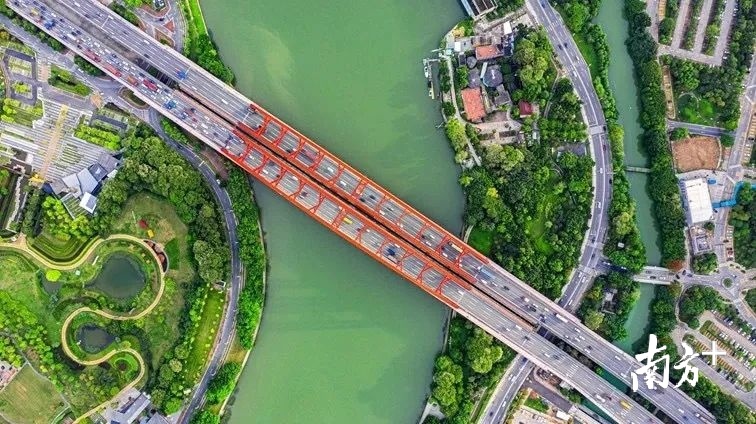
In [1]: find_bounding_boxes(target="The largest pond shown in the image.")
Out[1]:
[88,250,145,298]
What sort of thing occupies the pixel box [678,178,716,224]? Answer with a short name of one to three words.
building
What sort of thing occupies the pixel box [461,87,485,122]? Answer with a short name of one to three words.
building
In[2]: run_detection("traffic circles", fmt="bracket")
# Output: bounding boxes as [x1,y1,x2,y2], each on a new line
[712,266,745,299]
